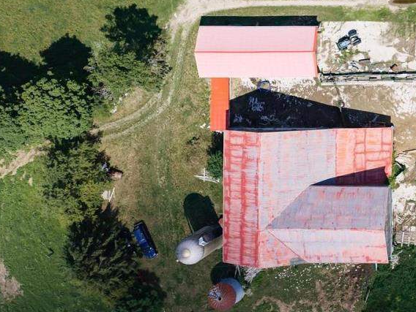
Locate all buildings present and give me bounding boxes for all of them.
[223,127,393,271]
[194,26,321,77]
[209,78,233,126]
